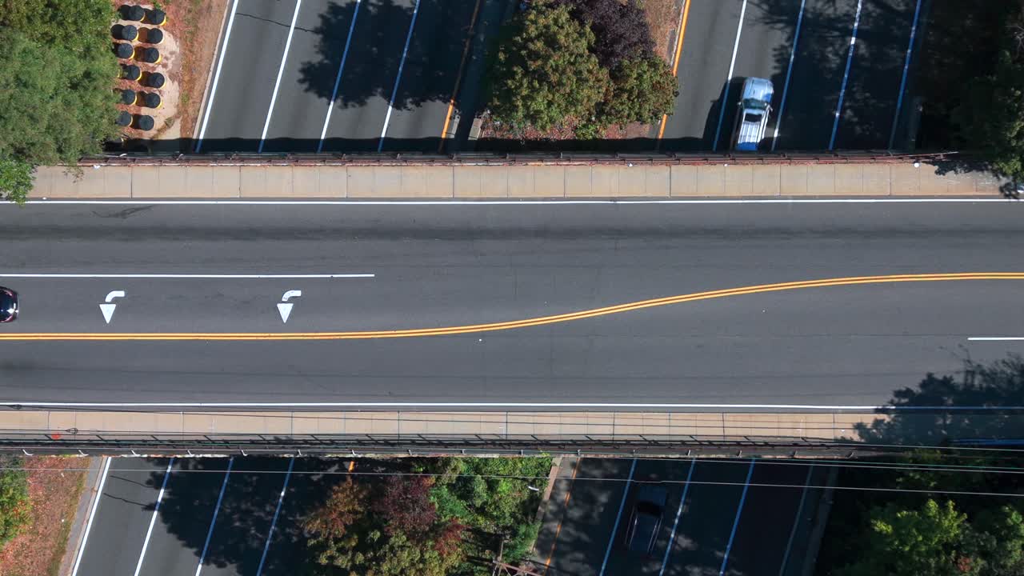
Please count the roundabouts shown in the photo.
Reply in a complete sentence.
The count of roundabouts is 0.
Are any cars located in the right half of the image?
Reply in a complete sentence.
Yes, you'll find a car in the right half of the image.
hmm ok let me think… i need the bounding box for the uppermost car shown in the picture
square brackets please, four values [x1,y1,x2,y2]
[726,76,773,158]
